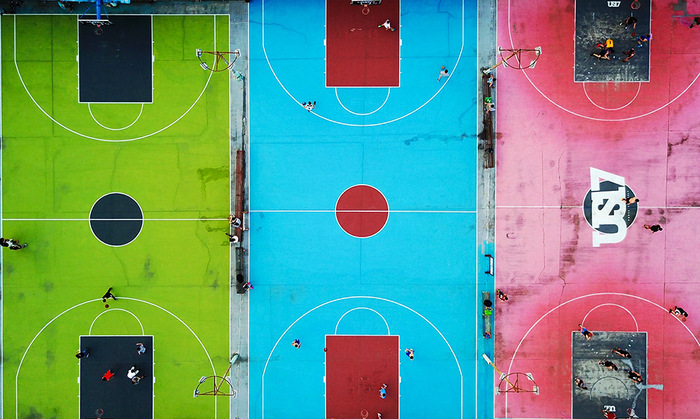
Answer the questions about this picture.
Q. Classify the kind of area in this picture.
sports ground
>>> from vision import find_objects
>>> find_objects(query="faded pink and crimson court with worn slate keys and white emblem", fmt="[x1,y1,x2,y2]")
[494,0,700,419]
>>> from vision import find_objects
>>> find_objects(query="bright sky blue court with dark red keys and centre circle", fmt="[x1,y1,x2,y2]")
[247,0,477,419]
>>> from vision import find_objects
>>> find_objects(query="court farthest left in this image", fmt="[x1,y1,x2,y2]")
[1,14,230,419]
